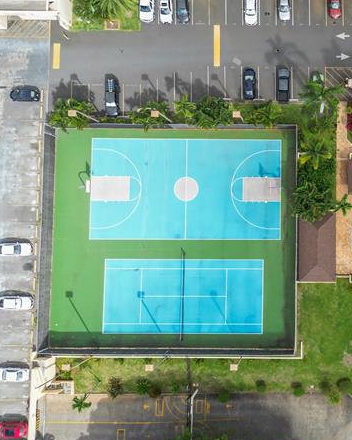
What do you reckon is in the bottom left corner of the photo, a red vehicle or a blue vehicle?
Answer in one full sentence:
There is a red vehicle in the bottom left corner of the photo.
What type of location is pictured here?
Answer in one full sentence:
This looks like a sports ground.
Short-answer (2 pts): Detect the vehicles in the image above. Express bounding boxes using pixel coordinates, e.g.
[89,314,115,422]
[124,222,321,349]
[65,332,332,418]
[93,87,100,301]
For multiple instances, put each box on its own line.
[241,68,256,101]
[137,0,154,22]
[0,296,36,312]
[174,0,190,24]
[9,86,41,102]
[102,76,120,115]
[276,0,290,22]
[327,0,341,20]
[0,241,34,258]
[0,366,31,384]
[274,68,289,102]
[243,0,258,26]
[0,421,29,440]
[157,0,173,24]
